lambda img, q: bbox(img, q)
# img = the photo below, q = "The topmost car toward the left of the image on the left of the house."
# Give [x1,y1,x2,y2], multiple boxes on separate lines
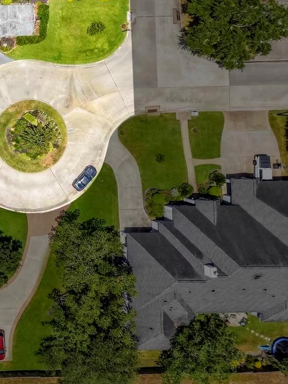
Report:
[73,163,100,193]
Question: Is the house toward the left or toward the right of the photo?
right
